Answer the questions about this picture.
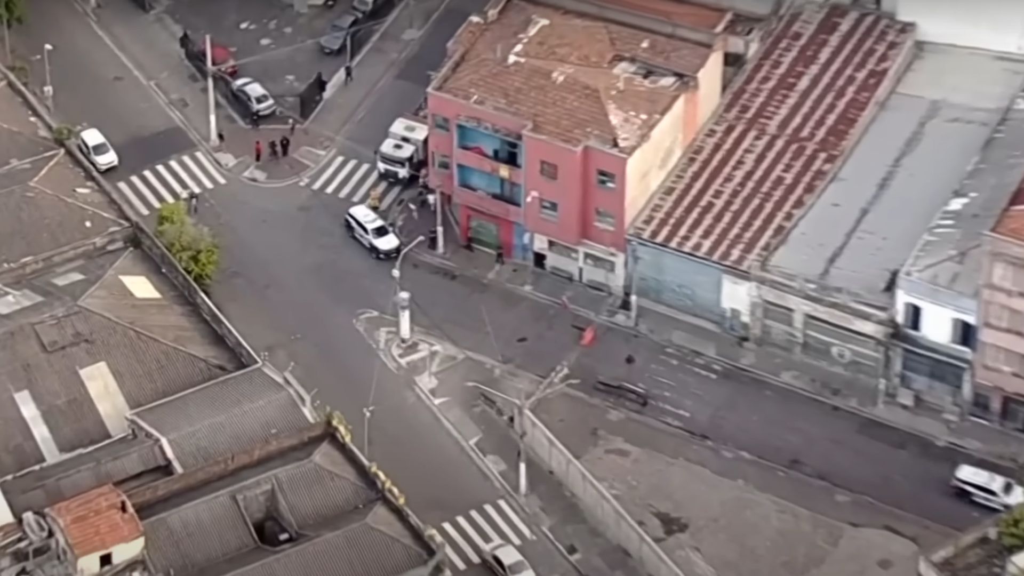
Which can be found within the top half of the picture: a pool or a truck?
truck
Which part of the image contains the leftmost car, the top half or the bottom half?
top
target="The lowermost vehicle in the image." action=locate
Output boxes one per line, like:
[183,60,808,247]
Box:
[481,533,538,576]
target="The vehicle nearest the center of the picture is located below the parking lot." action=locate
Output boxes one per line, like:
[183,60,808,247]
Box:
[344,205,401,257]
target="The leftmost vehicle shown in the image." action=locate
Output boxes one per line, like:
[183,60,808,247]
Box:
[77,129,120,173]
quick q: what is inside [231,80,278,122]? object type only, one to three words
car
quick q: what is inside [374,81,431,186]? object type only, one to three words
truck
